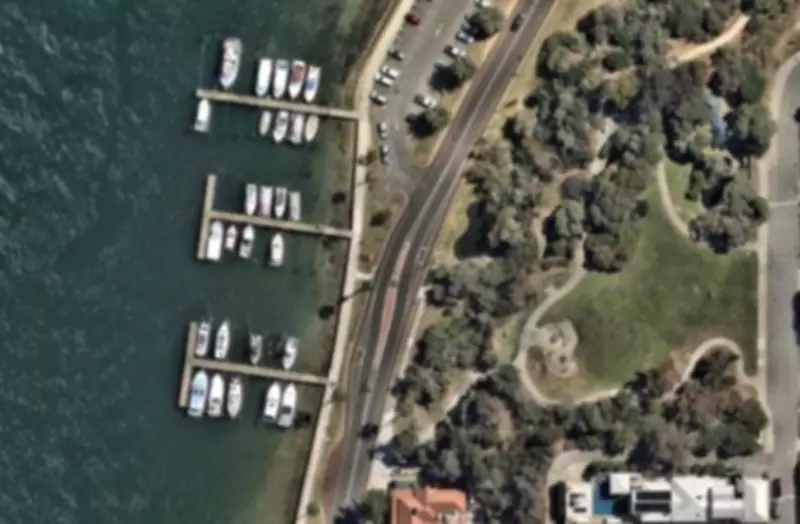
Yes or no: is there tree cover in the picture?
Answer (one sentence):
Yes, tree cover shows up in the scene.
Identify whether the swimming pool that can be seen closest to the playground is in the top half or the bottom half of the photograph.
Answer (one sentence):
Seen from above, the swimming pool that can be seen closest to the playground lies in the bottom half of the view.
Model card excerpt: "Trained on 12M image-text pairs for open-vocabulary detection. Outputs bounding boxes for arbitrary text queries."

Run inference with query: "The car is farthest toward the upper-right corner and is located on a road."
[510,13,523,30]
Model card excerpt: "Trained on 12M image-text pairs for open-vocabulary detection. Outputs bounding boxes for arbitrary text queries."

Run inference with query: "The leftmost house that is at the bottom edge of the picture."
[392,469,468,524]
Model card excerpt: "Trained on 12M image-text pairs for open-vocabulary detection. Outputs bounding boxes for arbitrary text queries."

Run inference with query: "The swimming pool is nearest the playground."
[593,485,616,515]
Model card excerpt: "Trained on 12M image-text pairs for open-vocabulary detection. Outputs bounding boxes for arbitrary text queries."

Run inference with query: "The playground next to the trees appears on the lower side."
[518,319,578,380]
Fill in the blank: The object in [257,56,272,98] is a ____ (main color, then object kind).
white boat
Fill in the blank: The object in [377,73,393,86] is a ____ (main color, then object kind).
white vehicle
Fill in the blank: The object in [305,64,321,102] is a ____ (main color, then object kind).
white boat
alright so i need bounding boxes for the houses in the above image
[392,469,468,524]
[566,474,770,524]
